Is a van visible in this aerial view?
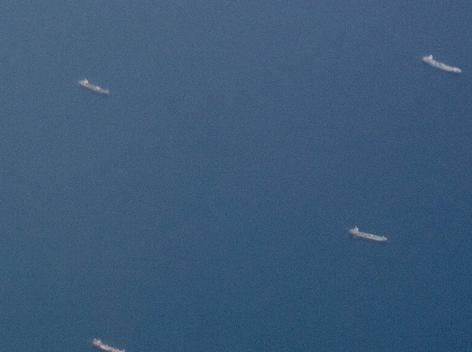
No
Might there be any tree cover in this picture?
No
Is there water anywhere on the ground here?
Yes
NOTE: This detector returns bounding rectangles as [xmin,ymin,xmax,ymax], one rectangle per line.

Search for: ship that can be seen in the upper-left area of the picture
[77,79,109,94]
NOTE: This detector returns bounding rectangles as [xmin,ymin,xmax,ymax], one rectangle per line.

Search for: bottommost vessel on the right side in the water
[349,228,387,241]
